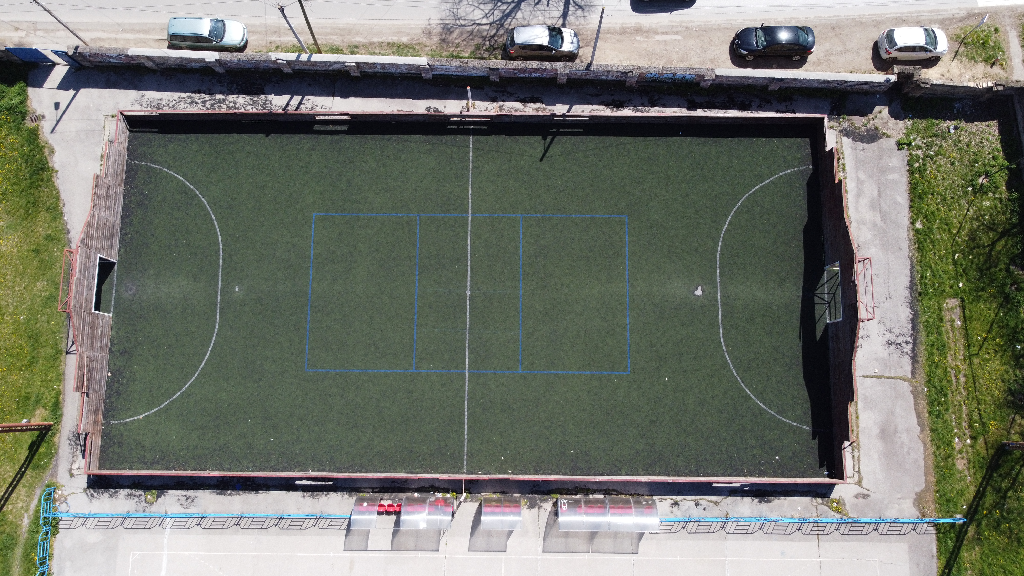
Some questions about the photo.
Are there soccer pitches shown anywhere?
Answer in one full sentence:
Yes, this view includes a soccer pitch.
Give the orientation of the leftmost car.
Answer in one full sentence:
Seen from above, the leftmost car lies from side to side.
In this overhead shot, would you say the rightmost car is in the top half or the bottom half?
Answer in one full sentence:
Seen from above, the rightmost car lies in the top half of the view.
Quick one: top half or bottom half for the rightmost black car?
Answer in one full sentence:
The rightmost black car sits in the top half of the picture.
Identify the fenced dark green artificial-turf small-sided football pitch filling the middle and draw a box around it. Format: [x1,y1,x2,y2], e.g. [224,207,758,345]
[93,121,841,478]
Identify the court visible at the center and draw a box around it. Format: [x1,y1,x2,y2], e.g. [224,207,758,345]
[306,214,629,373]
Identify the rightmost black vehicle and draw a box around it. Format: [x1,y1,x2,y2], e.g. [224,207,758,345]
[733,21,816,61]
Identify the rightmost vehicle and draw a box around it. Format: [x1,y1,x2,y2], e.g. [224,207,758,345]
[876,22,947,61]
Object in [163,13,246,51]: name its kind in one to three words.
car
